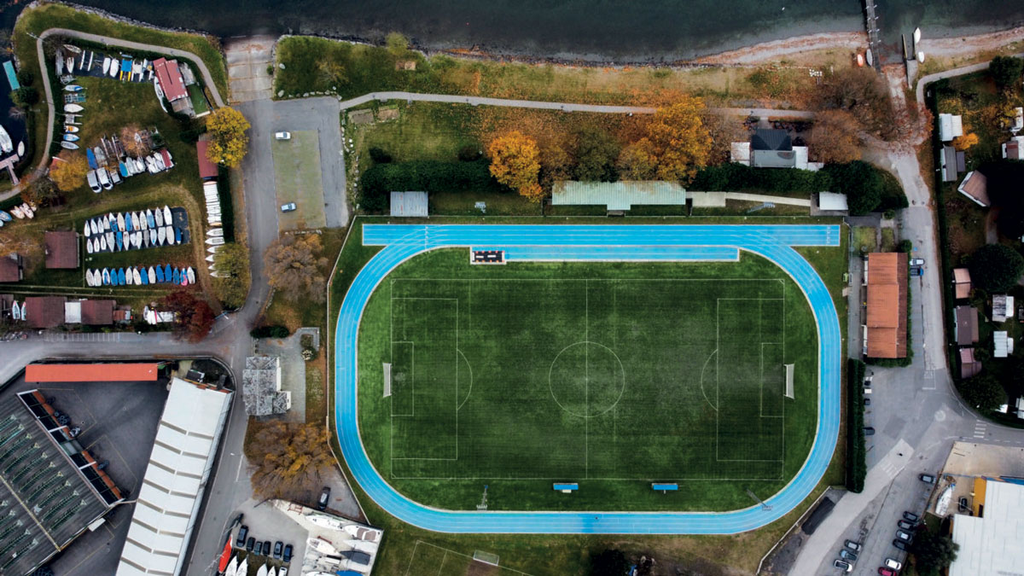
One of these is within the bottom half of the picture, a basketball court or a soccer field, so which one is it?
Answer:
soccer field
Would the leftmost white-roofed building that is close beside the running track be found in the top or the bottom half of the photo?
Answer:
bottom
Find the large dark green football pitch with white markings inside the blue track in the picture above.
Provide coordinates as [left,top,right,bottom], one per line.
[391,278,785,480]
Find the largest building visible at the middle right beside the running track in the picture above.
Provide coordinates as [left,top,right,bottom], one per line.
[860,253,907,358]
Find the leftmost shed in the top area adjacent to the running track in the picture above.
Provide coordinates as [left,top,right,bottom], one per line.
[390,192,428,216]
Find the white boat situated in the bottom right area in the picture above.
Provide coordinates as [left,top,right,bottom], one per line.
[934,484,951,515]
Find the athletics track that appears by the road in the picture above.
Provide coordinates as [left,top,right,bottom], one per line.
[334,224,842,536]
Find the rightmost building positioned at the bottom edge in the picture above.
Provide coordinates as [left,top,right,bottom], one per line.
[949,475,1024,576]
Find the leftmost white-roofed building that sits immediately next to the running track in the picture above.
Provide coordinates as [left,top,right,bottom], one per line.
[115,376,233,576]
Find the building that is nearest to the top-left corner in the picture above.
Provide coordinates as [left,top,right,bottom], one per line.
[153,57,191,102]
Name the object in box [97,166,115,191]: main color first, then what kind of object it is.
white vehicle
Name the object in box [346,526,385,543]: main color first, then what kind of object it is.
white boat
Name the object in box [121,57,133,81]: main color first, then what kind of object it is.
blue boat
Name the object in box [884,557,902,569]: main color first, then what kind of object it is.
white vehicle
